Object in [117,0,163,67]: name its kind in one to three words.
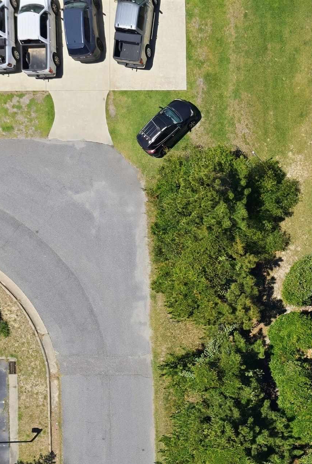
vehicle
